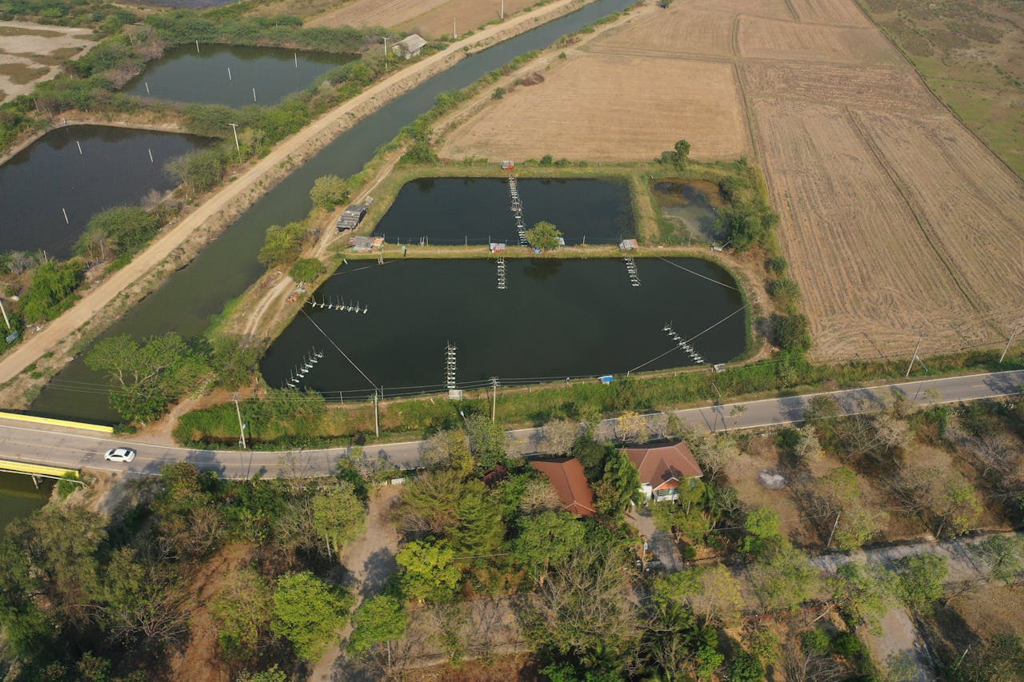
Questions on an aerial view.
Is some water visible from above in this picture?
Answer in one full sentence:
Yes, there is water in the image.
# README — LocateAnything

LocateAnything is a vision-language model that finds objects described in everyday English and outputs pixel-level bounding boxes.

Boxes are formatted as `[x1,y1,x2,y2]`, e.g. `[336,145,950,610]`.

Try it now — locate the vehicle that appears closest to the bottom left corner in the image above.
[103,449,136,465]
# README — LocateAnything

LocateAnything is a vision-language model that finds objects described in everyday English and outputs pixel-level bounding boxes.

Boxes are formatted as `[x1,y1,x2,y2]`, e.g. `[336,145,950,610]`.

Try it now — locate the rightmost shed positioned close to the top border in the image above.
[391,34,427,59]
